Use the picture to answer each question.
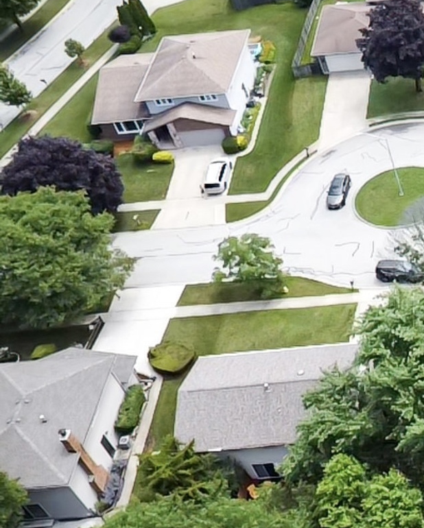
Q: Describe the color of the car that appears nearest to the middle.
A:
white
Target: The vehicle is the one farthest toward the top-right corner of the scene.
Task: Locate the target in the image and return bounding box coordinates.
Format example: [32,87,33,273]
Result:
[324,172,349,206]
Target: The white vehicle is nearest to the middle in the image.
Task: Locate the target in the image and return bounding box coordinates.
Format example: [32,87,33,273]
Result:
[198,161,228,195]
